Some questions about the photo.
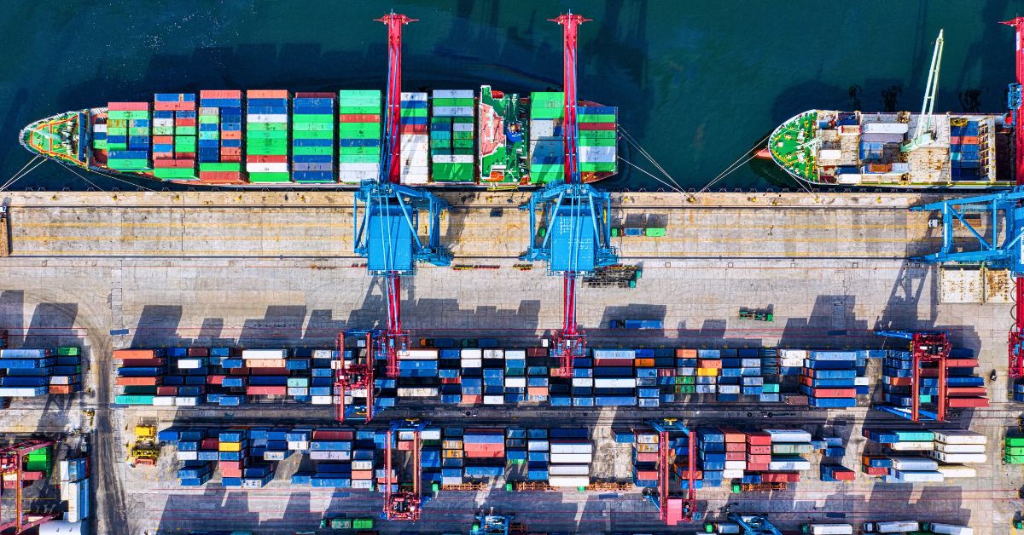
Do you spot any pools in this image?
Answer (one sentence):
No, I can't see a single pool in this photo.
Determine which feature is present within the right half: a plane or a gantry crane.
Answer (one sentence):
Visible within the right half is a gantry crane.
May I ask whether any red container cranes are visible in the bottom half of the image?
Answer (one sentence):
Yes, I can see a red container crane in the bottom half of the image.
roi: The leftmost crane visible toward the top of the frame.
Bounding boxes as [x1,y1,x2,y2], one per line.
[347,2,459,377]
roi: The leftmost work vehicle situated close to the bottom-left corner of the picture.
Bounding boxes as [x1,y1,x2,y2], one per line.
[132,427,161,466]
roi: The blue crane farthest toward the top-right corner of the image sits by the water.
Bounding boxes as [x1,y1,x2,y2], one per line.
[899,13,1024,377]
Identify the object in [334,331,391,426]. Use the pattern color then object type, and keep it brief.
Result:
red container crane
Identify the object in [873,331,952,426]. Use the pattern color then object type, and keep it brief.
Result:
red container crane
